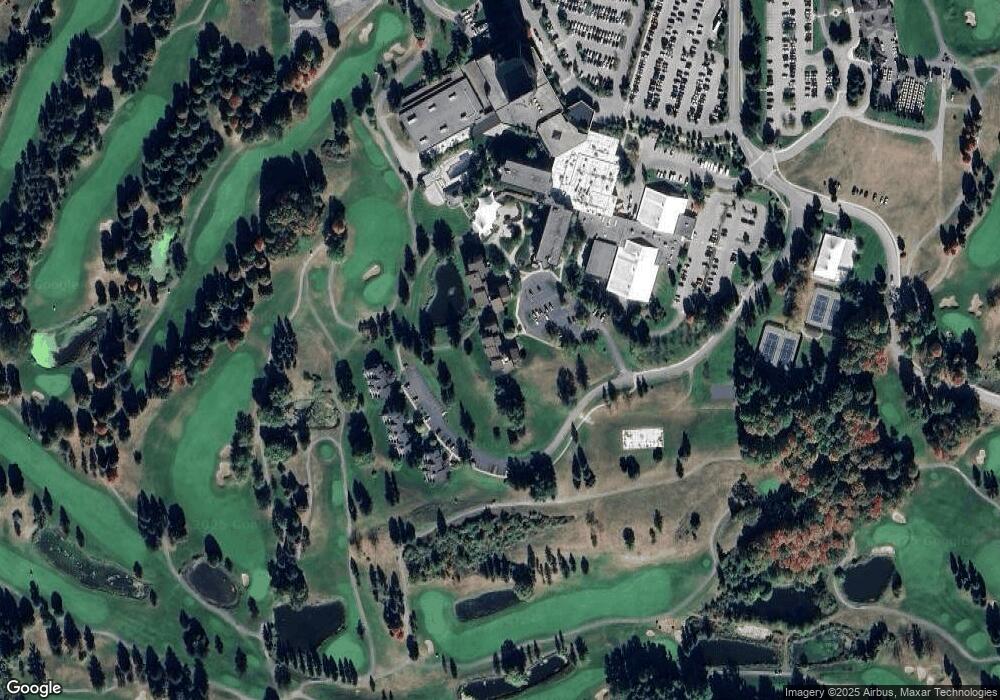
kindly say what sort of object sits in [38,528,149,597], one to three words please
pond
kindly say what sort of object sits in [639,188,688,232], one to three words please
building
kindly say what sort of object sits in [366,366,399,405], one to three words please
house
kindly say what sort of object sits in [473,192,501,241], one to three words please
tent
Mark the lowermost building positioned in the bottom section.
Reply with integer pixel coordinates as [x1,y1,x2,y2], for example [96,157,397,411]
[419,447,452,485]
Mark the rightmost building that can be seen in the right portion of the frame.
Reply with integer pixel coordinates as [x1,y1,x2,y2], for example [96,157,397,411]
[858,0,894,34]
